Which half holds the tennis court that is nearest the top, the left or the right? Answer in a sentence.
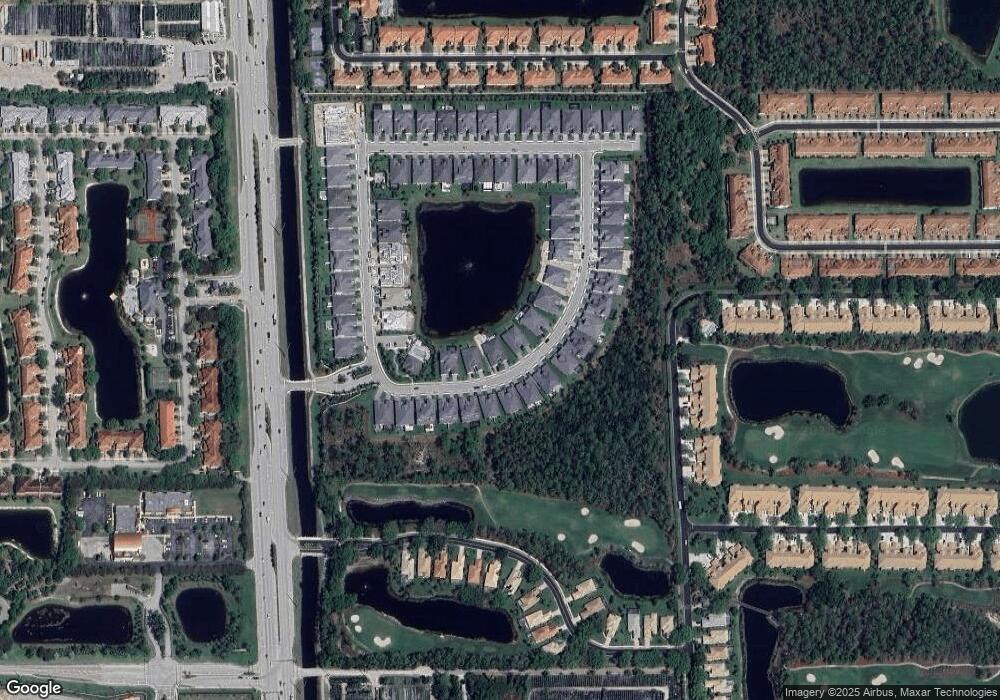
It is on the left.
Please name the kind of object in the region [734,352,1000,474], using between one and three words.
golf course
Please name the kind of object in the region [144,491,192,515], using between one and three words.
building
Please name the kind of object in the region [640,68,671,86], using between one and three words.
house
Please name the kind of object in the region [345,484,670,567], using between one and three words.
golf course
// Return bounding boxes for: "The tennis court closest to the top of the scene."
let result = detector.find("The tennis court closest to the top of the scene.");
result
[137,208,166,243]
